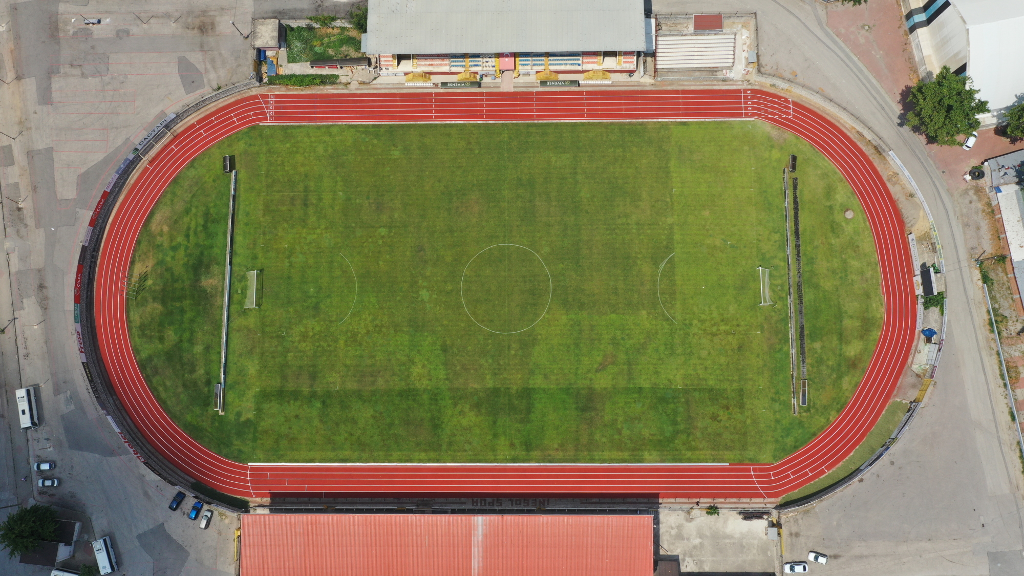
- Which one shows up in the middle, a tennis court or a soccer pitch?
soccer pitch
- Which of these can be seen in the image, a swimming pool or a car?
car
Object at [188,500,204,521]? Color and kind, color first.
blue car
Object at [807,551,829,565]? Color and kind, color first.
white car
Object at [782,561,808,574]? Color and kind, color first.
white vehicle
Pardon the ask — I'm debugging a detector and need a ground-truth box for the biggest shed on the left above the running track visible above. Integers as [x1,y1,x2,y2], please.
[252,19,283,52]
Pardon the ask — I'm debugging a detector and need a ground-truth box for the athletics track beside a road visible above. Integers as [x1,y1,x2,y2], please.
[94,89,917,499]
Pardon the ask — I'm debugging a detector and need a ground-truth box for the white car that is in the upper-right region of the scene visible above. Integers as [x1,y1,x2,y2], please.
[961,133,977,152]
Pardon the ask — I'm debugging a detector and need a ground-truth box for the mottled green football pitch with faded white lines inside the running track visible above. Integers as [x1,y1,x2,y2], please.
[253,126,765,457]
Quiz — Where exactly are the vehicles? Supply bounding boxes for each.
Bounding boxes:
[169,491,186,512]
[18,388,40,429]
[198,508,214,530]
[807,551,829,565]
[961,133,977,152]
[52,564,95,576]
[94,535,119,576]
[782,561,808,574]
[188,500,204,521]
[34,461,56,471]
